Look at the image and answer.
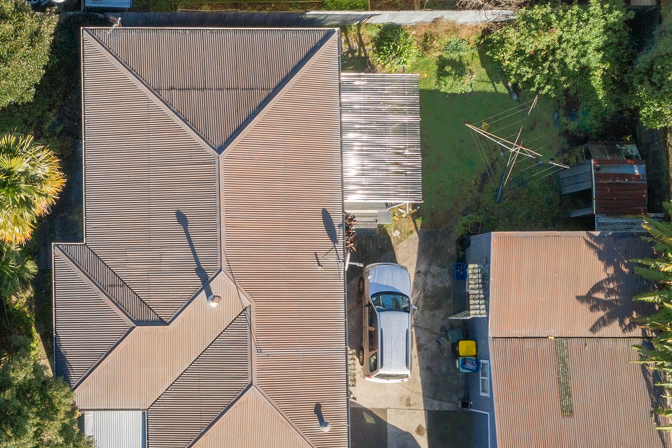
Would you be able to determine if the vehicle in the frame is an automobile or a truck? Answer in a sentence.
I'd say the vehicle is an automobile.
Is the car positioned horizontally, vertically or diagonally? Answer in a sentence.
The car runs vertically in the image.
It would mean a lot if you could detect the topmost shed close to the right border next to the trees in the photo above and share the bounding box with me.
[541,144,665,231]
